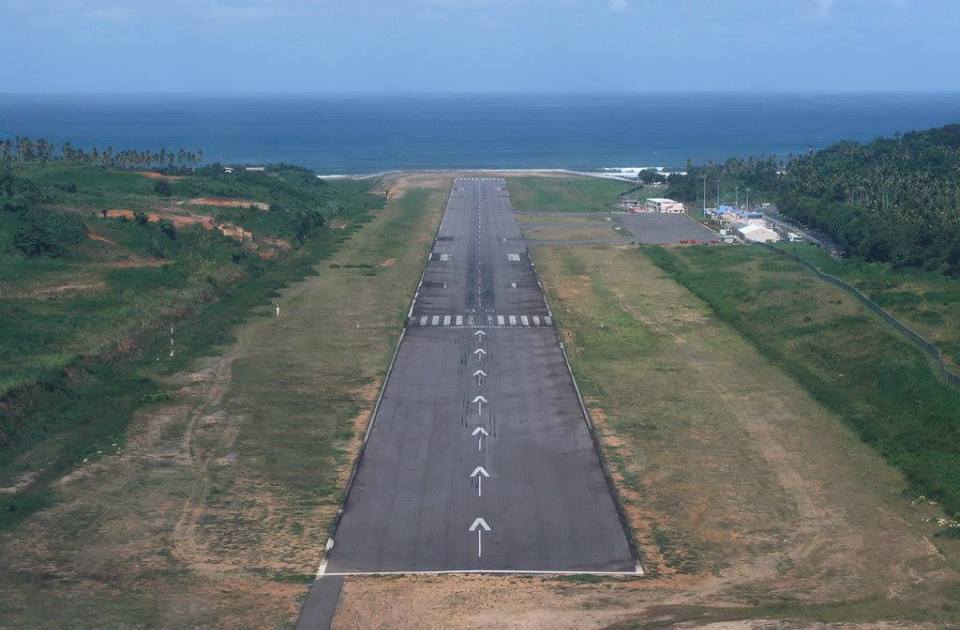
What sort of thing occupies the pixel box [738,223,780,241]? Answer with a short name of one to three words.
hangar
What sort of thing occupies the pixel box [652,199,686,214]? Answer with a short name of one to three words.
building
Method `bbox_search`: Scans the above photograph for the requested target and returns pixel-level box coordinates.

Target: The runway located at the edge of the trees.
[316,177,643,574]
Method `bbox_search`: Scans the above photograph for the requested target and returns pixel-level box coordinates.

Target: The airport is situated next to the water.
[305,177,722,630]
